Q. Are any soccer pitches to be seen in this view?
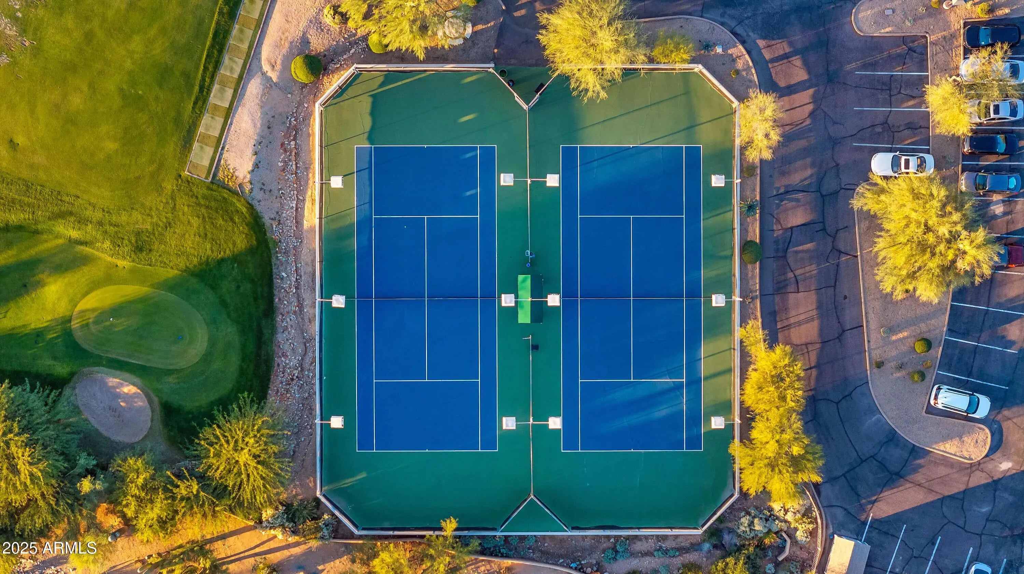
No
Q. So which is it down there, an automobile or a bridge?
automobile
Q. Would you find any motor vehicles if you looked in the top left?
No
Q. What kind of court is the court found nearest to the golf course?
tennis court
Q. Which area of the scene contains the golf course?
left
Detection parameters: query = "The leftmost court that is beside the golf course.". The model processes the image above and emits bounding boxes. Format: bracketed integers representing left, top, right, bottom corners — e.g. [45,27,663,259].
[319,66,529,529]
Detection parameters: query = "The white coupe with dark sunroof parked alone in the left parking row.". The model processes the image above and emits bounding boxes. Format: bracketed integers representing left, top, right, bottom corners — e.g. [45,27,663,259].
[868,150,933,179]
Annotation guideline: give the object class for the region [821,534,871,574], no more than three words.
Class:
shed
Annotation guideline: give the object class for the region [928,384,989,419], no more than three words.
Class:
car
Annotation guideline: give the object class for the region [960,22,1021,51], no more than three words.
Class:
car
